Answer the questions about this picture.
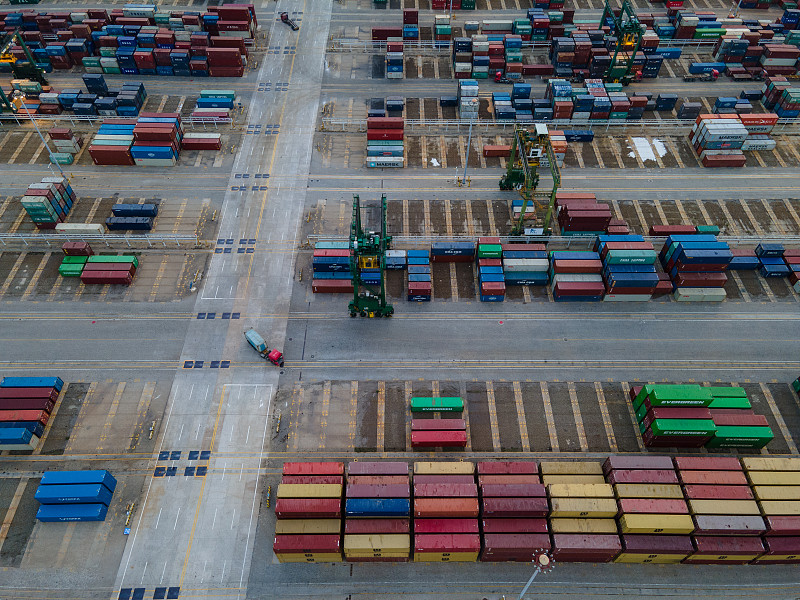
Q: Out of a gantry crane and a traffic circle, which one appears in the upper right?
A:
gantry crane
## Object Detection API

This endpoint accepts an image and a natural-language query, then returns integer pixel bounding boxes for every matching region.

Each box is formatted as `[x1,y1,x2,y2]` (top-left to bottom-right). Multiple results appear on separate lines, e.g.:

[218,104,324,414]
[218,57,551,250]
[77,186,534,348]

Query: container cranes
[347,191,398,319]
[0,30,48,126]
[597,0,647,84]
[502,123,564,239]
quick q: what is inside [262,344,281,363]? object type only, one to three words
vehicle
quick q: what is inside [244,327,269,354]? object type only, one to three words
shipping container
